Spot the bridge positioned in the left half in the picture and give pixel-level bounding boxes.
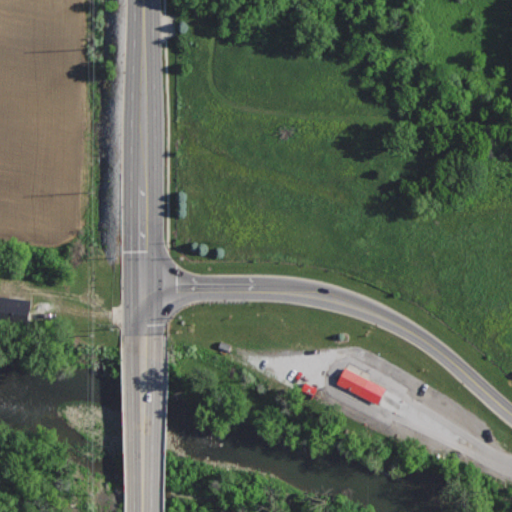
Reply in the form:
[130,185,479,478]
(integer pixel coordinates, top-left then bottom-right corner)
[121,334,168,512]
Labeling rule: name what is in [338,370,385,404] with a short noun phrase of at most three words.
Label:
building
